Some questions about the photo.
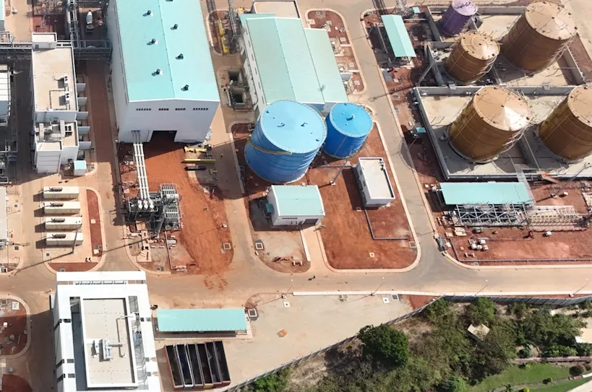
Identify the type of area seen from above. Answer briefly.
industrial area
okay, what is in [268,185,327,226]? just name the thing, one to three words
building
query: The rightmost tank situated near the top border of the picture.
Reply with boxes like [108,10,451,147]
[501,0,579,73]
